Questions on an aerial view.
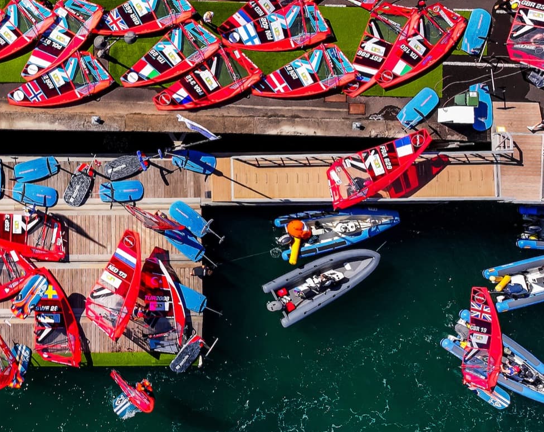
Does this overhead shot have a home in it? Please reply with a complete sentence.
No, I can't see a single home in this photo.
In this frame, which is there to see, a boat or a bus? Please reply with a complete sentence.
The one in the frame is a boat.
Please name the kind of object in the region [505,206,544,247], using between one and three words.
boat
